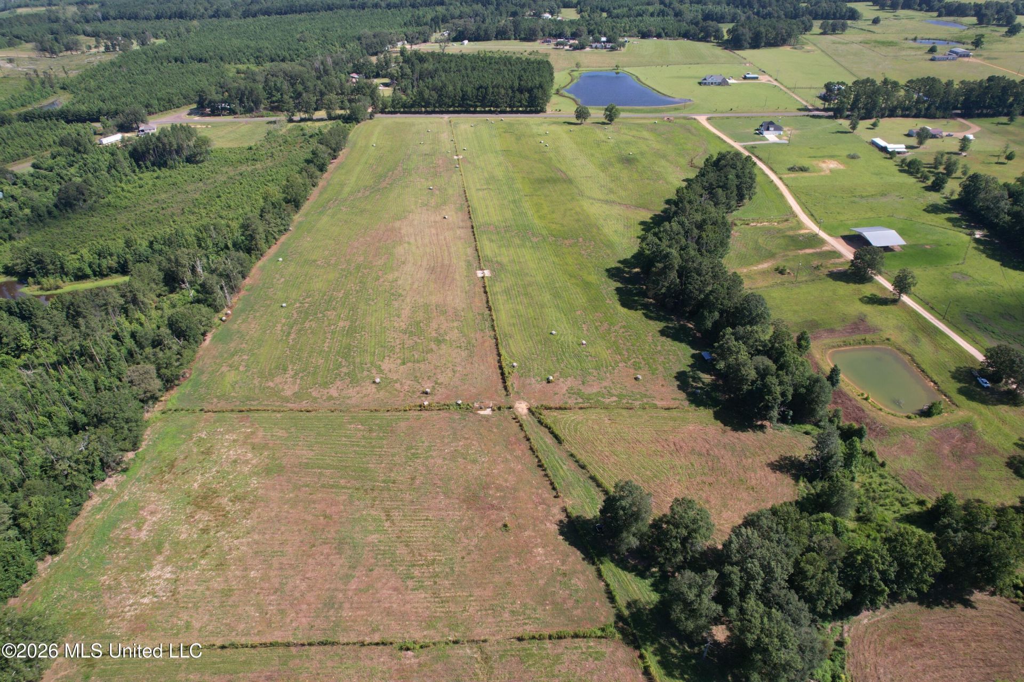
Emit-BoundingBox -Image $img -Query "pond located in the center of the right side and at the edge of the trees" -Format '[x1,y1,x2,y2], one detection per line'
[828,346,942,415]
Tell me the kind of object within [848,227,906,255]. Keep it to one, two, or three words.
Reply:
barn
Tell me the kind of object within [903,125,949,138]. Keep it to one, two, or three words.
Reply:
house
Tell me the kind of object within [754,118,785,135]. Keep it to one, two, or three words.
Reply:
house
